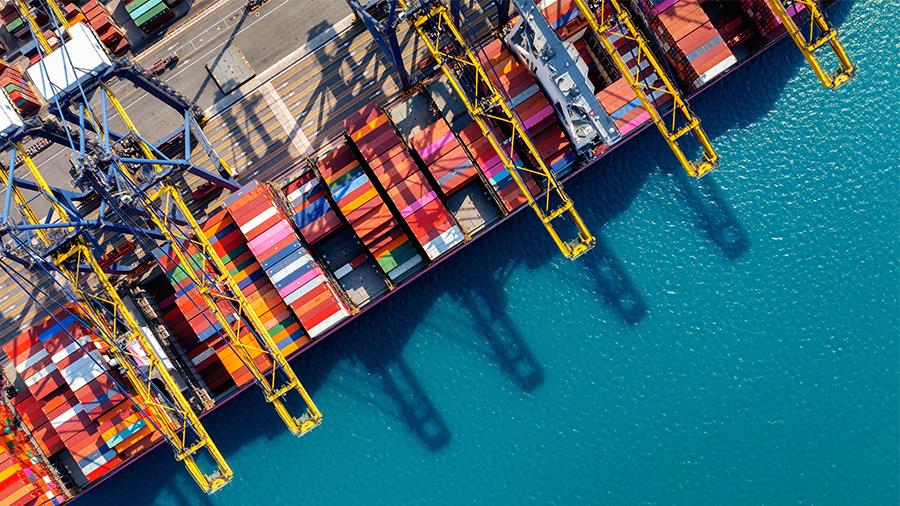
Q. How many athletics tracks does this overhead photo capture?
zero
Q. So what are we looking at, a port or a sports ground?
port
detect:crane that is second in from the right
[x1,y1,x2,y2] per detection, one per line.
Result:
[576,0,720,175]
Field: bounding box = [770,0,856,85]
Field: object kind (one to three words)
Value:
container crane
